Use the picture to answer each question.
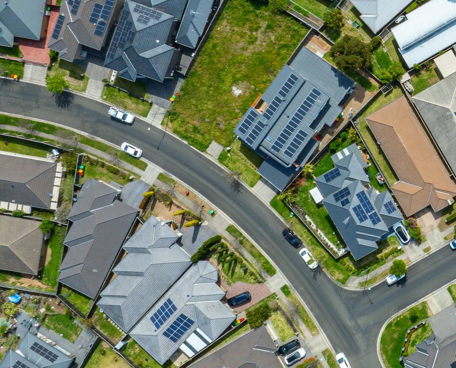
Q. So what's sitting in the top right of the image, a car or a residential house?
residential house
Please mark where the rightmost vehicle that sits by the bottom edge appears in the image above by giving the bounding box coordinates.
[337,354,351,368]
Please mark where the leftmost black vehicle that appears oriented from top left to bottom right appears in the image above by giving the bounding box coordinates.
[283,227,302,248]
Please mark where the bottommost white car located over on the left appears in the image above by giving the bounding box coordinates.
[120,143,144,157]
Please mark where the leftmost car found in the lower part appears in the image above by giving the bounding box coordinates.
[228,291,250,306]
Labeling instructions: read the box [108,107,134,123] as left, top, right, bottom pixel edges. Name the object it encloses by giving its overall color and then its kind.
white vehicle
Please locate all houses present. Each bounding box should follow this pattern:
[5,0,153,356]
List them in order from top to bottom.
[0,0,47,47]
[50,0,120,63]
[103,0,189,83]
[347,0,408,29]
[391,0,456,62]
[232,46,357,192]
[412,49,456,173]
[366,95,456,217]
[315,144,403,261]
[0,153,63,214]
[57,178,141,300]
[96,213,189,333]
[0,215,46,275]
[130,259,237,364]
[191,326,288,368]
[0,328,81,368]
[405,332,456,368]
